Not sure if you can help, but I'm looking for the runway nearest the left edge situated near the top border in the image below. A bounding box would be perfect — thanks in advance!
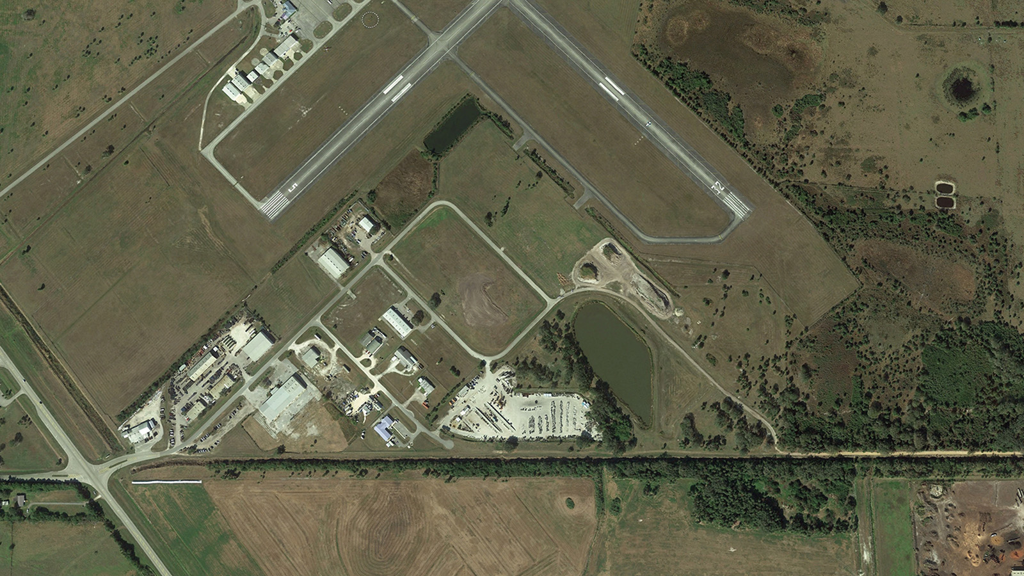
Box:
[257,0,504,224]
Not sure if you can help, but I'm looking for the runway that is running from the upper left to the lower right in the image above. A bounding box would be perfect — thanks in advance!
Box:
[499,0,756,225]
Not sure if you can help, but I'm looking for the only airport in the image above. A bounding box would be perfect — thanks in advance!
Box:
[201,0,756,245]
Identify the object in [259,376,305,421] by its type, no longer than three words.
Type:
building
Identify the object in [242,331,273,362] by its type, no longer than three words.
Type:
building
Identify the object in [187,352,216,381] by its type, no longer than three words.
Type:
shed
